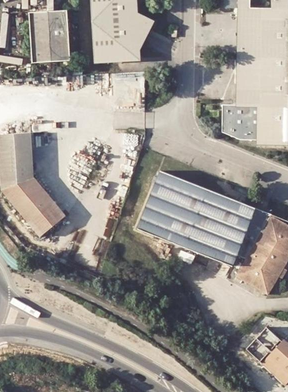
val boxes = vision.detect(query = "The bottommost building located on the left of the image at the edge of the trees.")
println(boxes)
[0,133,65,236]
